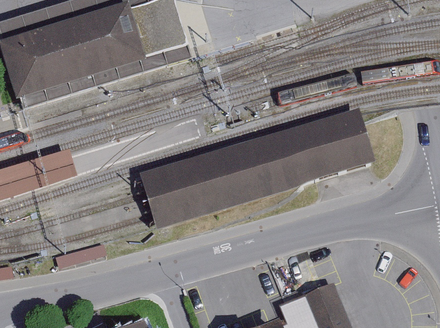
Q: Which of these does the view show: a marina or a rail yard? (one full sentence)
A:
This looks like a rail yard.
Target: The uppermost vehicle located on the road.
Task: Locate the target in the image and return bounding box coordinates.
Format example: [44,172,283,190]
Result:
[418,122,430,145]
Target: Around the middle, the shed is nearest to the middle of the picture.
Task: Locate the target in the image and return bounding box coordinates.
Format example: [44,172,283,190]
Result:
[140,108,374,230]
